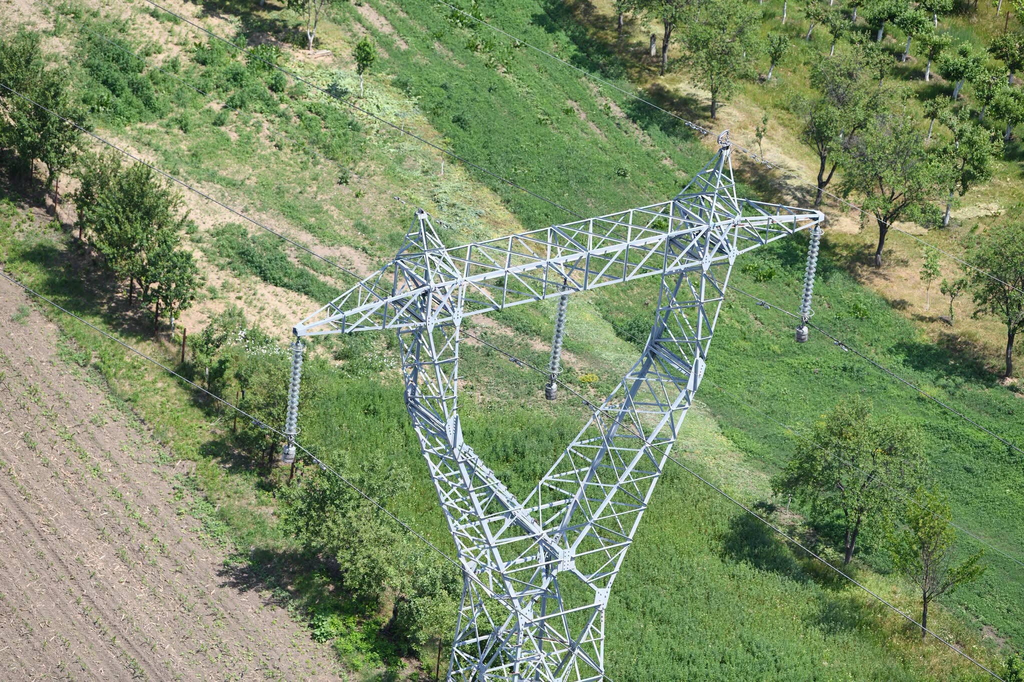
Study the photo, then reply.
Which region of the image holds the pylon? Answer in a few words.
center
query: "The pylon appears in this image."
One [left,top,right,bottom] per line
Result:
[292,139,826,682]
